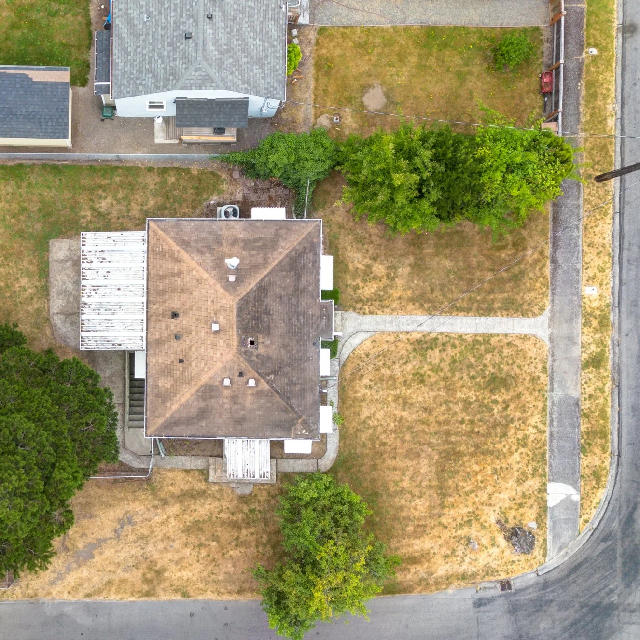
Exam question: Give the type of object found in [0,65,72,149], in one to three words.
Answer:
shed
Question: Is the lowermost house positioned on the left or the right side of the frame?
left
